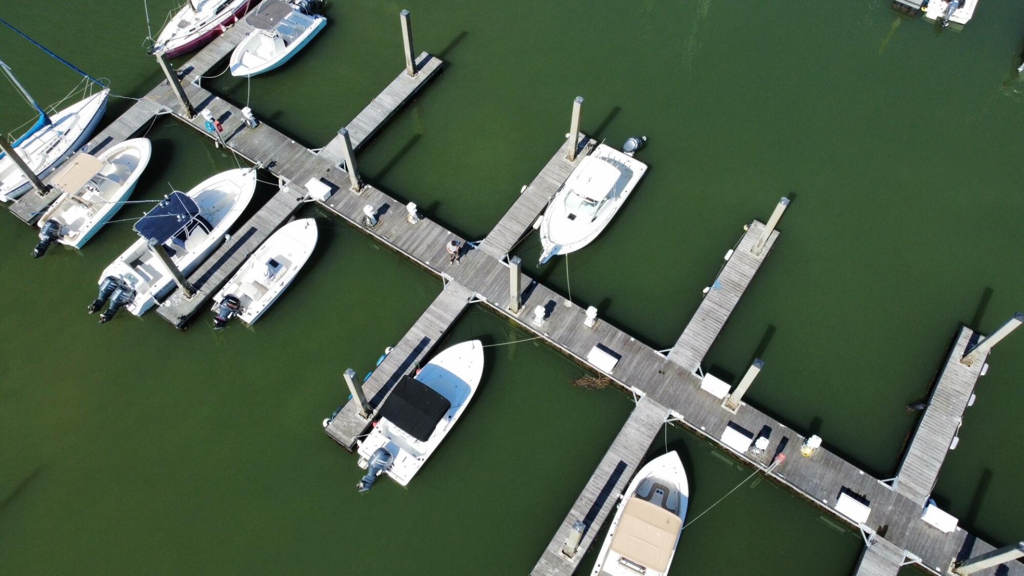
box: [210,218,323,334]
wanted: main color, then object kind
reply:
white boat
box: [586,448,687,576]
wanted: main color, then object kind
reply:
white boat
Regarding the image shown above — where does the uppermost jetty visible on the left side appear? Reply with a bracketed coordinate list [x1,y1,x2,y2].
[175,4,263,87]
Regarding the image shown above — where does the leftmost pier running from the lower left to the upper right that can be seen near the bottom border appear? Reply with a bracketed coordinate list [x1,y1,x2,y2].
[524,387,682,576]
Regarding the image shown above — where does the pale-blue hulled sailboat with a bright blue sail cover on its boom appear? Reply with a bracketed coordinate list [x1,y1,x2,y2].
[0,14,107,216]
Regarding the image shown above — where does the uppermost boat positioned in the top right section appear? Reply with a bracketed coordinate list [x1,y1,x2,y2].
[924,0,982,37]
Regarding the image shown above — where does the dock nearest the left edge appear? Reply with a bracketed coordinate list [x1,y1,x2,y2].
[6,97,172,228]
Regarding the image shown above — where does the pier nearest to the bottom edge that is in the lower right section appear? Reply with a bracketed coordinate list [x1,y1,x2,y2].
[845,523,918,576]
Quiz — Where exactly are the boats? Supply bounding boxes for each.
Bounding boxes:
[41,157,257,331]
[353,336,488,507]
[0,14,107,216]
[924,0,982,37]
[536,136,648,258]
[34,139,154,267]
[226,0,332,80]
[141,0,263,57]
[210,218,323,334]
[586,448,687,576]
